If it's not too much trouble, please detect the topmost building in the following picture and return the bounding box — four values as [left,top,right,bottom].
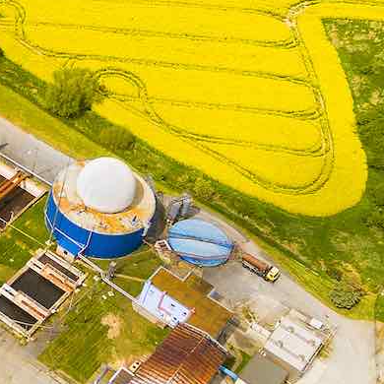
[134,267,236,342]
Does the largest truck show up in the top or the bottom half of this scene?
bottom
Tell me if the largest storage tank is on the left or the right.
left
